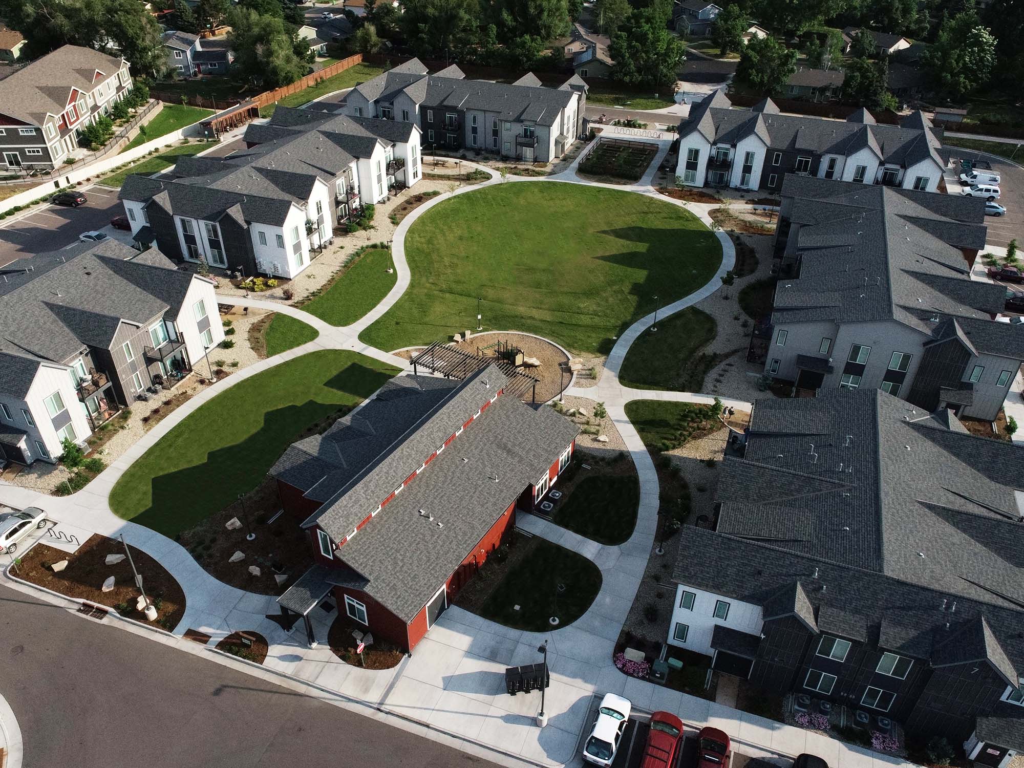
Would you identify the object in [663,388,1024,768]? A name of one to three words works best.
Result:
building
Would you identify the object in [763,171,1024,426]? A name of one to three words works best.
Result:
building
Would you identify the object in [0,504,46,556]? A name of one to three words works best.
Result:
car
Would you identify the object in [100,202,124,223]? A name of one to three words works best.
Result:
car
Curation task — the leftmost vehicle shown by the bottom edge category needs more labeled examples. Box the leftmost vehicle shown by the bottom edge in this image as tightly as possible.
[582,696,630,768]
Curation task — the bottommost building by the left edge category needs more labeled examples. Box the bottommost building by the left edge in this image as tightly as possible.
[0,237,223,471]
